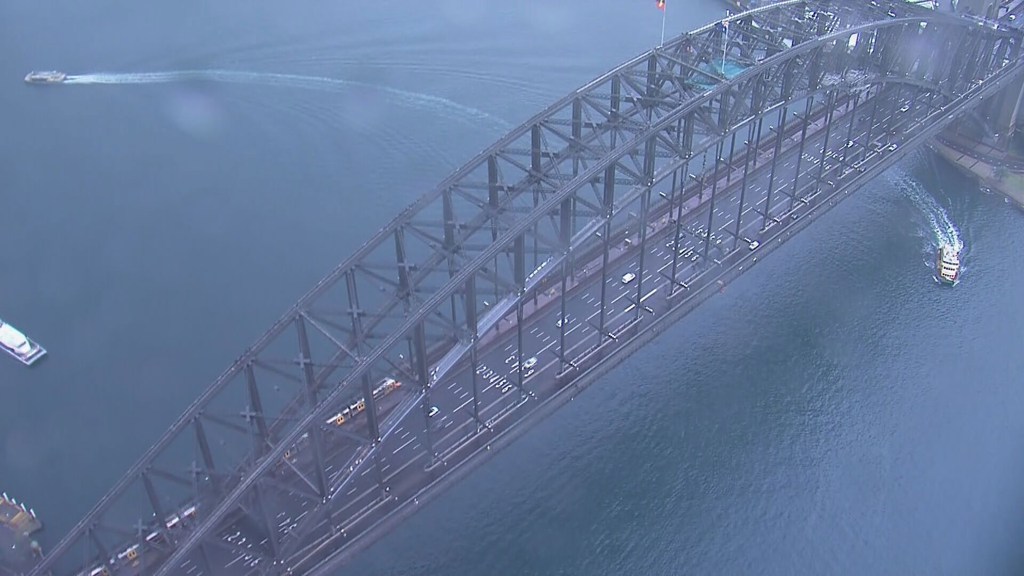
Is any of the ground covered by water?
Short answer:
Yes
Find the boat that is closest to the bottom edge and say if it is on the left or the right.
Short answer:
left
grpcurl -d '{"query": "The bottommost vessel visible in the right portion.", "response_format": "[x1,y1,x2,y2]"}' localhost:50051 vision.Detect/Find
[939,242,964,286]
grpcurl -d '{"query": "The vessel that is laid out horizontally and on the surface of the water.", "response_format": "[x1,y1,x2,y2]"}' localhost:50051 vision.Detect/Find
[20,68,65,83]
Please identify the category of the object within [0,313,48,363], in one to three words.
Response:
boat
